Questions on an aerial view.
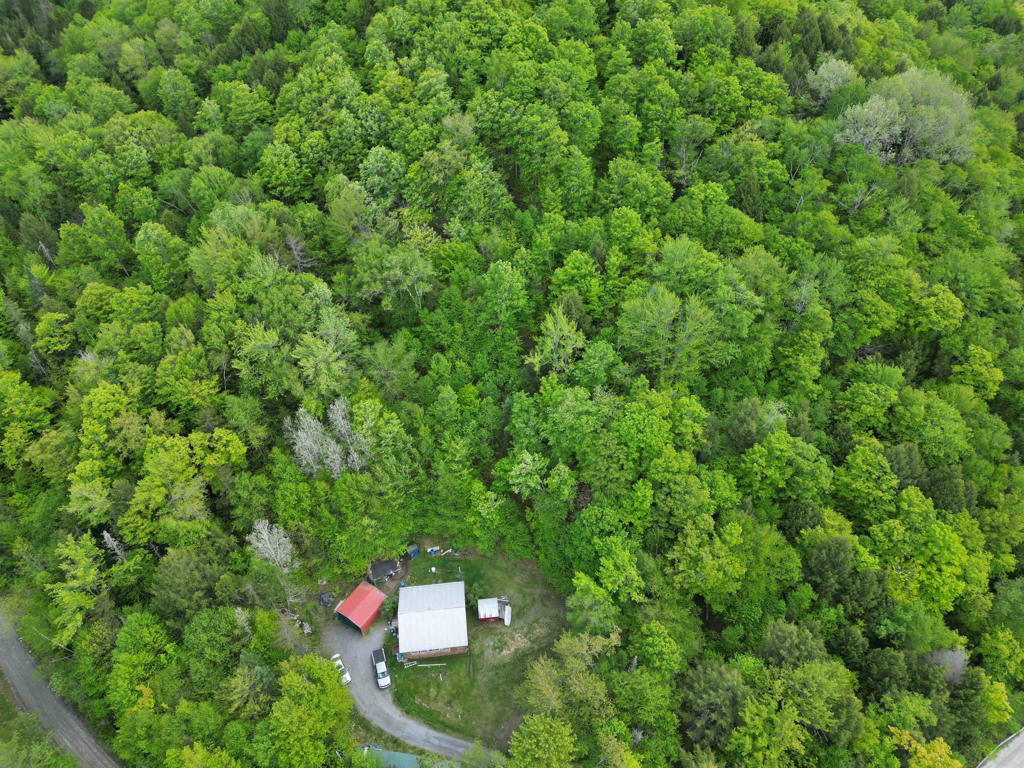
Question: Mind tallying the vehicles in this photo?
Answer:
2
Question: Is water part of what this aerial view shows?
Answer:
No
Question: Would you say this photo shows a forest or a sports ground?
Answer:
forest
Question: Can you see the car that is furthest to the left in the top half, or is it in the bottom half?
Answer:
bottom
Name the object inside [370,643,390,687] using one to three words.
vehicle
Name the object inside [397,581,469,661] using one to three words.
house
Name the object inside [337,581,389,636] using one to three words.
building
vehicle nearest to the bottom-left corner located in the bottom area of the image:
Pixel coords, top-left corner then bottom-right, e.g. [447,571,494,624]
[327,650,349,685]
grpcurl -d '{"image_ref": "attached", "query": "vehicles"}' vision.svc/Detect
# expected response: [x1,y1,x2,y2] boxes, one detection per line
[370,643,390,687]
[327,650,349,685]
